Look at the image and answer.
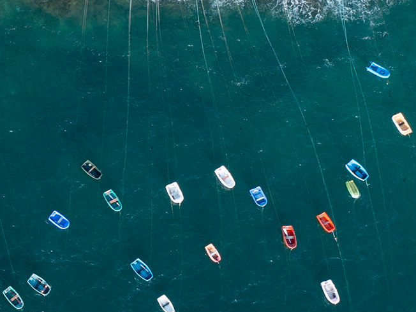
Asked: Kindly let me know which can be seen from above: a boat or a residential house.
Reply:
boat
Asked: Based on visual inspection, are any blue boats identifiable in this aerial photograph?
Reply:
Yes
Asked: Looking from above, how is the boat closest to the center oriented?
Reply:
on a diagonal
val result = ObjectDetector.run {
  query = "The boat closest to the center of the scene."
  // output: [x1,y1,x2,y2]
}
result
[215,165,235,192]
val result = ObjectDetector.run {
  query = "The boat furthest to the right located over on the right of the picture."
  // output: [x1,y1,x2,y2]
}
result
[392,112,414,140]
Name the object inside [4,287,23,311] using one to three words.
boat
